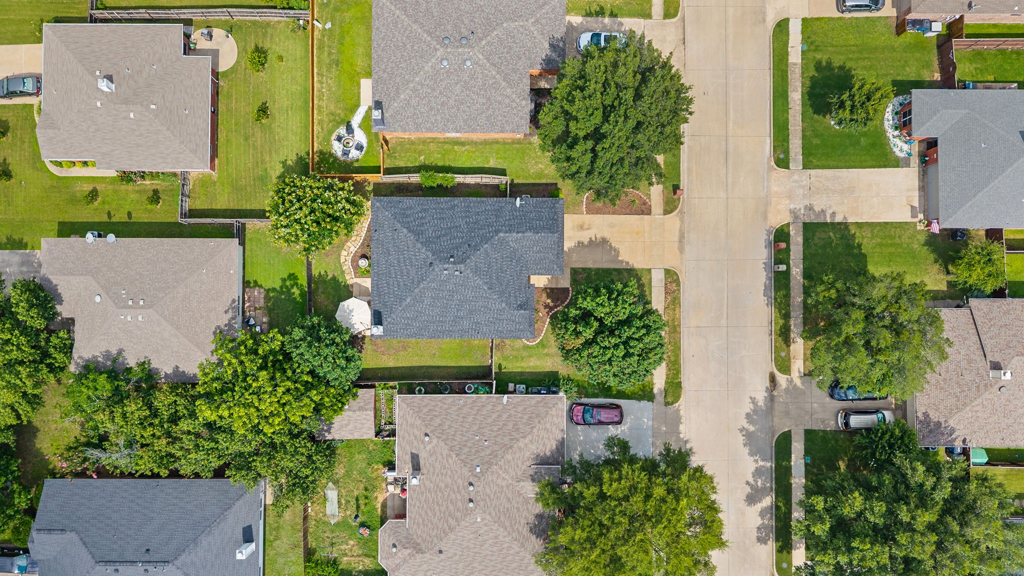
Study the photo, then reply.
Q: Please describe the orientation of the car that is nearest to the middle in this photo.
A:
horizontally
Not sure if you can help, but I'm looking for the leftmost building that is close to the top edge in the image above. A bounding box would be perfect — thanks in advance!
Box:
[35,23,223,172]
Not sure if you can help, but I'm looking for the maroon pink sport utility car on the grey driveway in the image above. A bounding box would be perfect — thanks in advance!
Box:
[569,403,624,429]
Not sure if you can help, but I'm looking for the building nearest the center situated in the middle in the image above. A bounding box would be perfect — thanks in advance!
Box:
[370,196,565,340]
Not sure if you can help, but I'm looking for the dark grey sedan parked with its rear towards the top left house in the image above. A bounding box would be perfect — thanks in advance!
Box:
[0,73,41,99]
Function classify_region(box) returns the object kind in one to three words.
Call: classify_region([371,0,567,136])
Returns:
house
